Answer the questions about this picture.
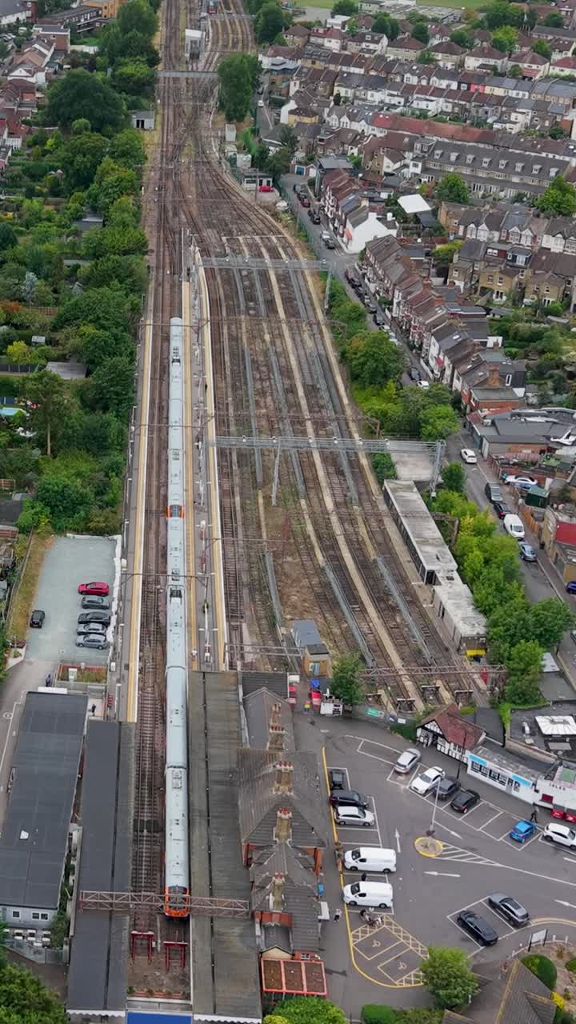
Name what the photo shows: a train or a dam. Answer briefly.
train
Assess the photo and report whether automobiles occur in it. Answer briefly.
Yes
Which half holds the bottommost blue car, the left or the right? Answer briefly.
right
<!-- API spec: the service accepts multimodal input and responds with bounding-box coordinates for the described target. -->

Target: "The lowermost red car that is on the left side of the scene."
[78,579,110,594]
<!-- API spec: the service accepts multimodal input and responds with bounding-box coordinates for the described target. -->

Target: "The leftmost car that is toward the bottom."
[29,606,46,625]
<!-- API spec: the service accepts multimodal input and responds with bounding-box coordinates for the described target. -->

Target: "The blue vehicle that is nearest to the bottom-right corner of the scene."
[509,815,542,841]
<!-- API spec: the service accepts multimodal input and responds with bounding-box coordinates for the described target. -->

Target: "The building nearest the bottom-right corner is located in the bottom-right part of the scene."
[488,961,560,1024]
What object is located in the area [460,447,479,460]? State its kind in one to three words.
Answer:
vehicle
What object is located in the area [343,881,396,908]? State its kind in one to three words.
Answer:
vehicle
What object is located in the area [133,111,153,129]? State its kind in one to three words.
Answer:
shed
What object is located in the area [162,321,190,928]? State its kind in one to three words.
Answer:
train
